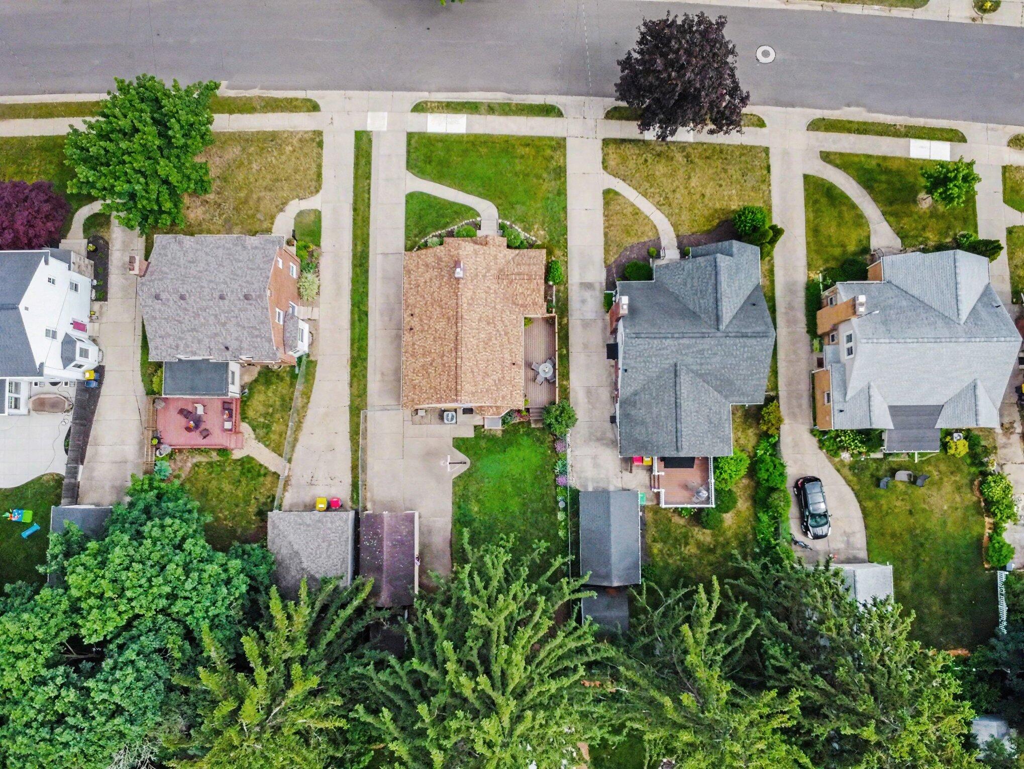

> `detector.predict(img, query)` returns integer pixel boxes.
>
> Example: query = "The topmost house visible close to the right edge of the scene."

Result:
[815,249,1024,462]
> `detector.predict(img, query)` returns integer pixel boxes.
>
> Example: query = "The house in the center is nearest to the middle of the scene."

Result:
[399,235,547,418]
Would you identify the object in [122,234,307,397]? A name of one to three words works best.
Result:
house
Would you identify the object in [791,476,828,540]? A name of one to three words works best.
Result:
car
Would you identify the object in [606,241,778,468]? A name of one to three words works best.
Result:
house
